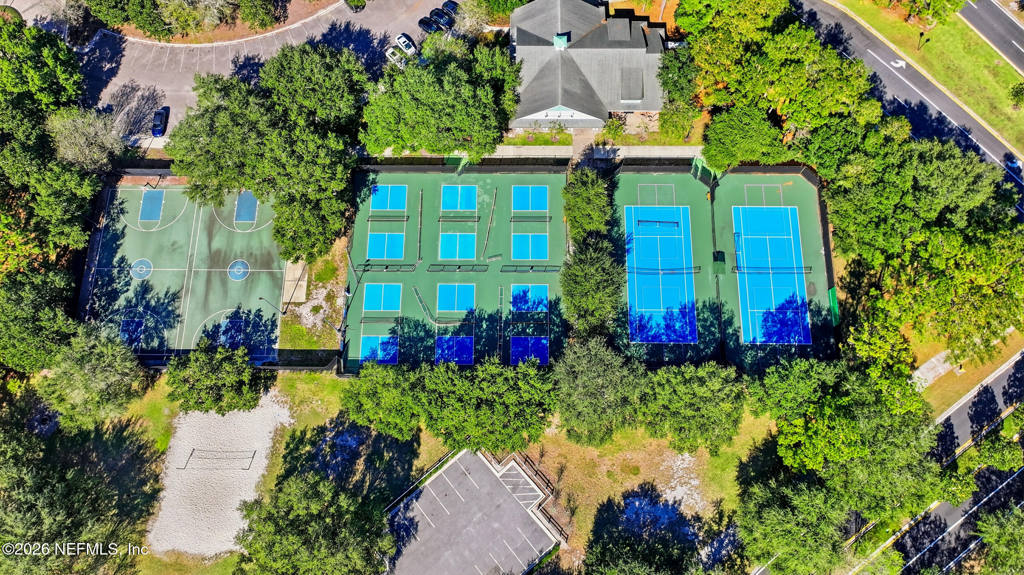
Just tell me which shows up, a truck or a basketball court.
basketball court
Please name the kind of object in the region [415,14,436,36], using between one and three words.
car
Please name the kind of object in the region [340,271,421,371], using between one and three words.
sports court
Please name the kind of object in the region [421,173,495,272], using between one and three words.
sports court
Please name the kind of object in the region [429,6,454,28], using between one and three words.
car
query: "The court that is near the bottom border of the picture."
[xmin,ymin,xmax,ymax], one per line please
[144,388,296,559]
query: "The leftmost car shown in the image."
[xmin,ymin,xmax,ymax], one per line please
[151,111,167,137]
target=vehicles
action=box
[415,14,436,36]
[151,111,167,137]
[386,48,408,71]
[393,32,417,55]
[439,0,462,20]
[429,6,454,28]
